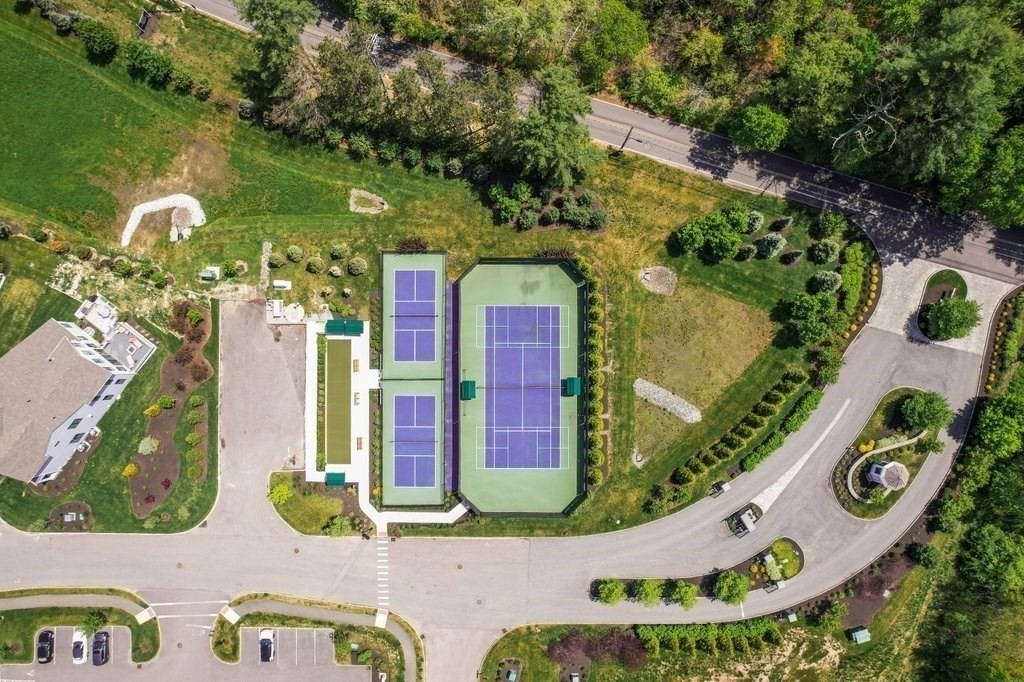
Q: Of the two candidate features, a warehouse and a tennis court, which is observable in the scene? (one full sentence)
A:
The image shows a tennis court.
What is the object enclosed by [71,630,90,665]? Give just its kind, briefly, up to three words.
car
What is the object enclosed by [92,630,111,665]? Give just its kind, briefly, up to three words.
car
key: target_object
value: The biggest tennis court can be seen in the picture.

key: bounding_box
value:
[460,259,586,514]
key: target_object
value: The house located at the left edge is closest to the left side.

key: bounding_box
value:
[0,318,156,485]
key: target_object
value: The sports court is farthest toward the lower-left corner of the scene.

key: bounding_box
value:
[382,380,445,505]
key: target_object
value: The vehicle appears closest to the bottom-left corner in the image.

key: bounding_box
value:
[37,629,56,664]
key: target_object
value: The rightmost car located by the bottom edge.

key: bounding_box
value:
[258,628,275,662]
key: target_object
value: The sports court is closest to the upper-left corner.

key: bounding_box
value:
[382,252,445,379]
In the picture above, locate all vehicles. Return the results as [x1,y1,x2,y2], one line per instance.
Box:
[71,630,90,665]
[258,628,275,662]
[92,630,111,665]
[37,629,56,664]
